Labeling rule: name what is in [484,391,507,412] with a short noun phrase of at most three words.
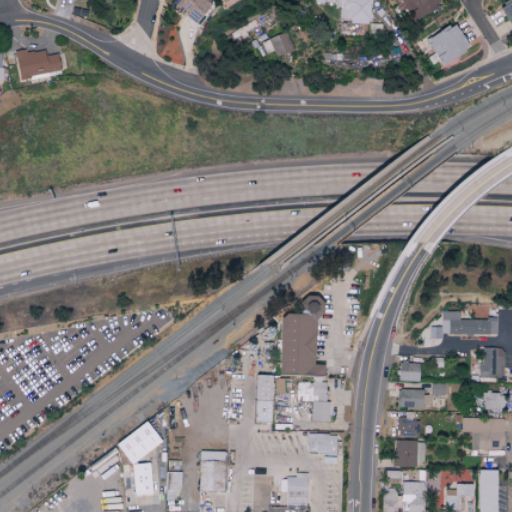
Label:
house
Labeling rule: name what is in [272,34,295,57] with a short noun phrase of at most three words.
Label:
barn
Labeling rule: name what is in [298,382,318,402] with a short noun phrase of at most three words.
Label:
building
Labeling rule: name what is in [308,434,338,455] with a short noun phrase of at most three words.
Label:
building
